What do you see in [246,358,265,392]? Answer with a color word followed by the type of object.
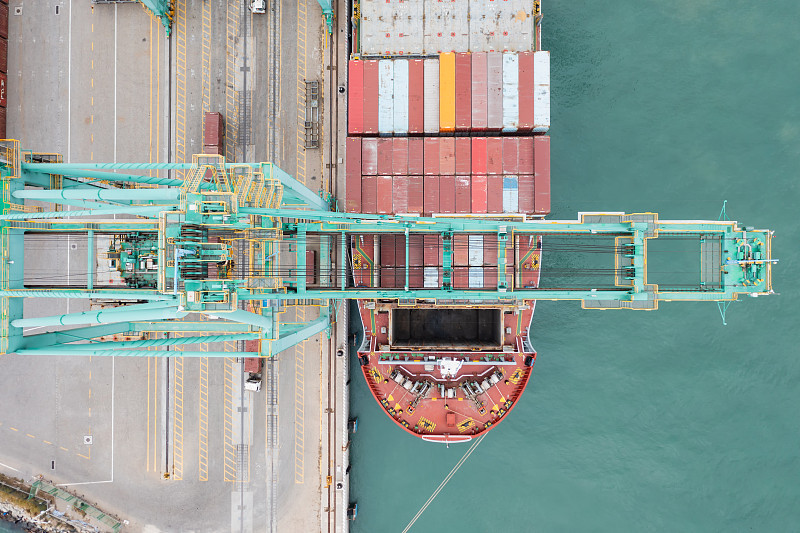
white vehicle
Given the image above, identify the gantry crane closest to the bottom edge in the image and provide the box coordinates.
[0,140,779,358]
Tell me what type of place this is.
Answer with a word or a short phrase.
port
